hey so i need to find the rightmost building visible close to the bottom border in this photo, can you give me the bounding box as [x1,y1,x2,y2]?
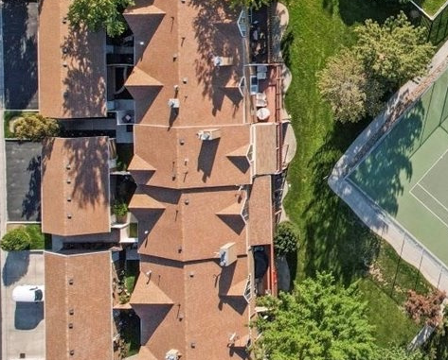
[130,247,261,360]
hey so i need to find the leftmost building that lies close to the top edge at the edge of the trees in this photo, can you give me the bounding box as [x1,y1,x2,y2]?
[39,0,113,119]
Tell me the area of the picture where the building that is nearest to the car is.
bottom left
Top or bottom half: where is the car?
bottom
